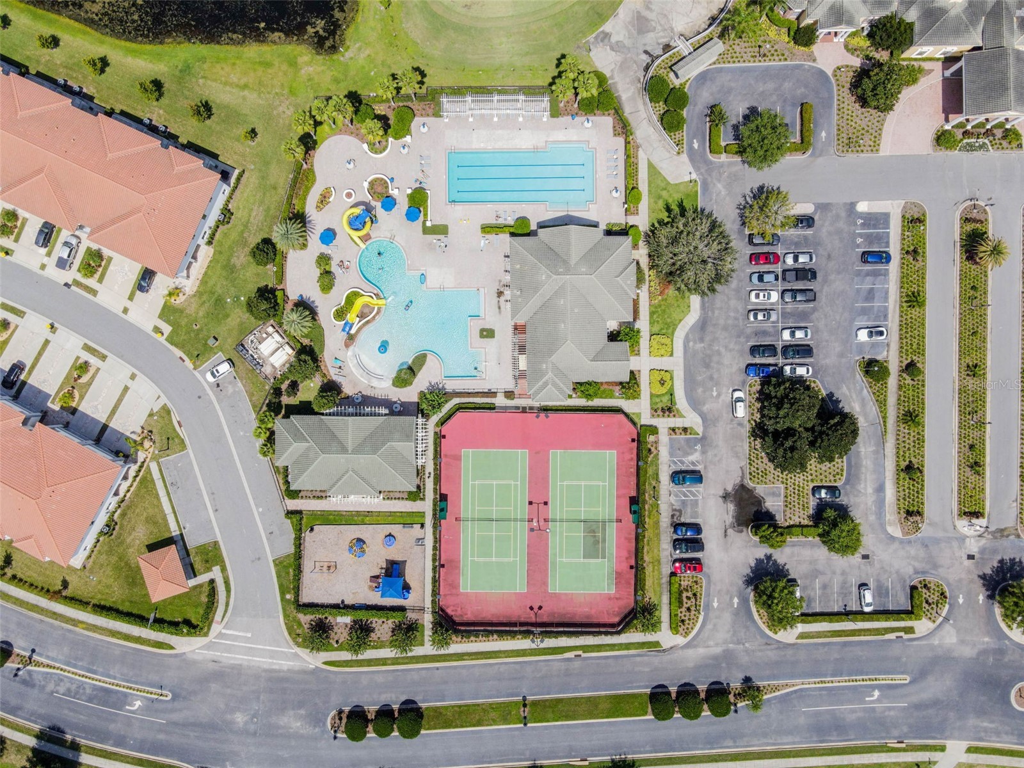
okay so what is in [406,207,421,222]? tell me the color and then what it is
blue umbrella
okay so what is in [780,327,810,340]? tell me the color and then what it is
white vehicle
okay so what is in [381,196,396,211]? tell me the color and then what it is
blue umbrella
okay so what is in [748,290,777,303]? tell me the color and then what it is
white vehicle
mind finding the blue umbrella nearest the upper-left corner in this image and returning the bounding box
[320,230,335,245]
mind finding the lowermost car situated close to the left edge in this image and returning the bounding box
[3,360,25,390]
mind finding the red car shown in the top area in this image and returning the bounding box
[749,252,779,265]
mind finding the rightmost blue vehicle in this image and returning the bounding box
[859,250,889,264]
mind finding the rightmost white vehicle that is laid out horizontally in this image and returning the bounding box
[856,327,885,340]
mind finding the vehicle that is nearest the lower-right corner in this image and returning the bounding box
[857,582,873,611]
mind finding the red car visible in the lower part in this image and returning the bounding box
[672,560,702,574]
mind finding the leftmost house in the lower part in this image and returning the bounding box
[0,391,134,567]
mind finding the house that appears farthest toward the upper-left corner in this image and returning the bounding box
[0,66,245,279]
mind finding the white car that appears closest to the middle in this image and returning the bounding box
[730,389,745,418]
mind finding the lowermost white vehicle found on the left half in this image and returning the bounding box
[206,360,236,381]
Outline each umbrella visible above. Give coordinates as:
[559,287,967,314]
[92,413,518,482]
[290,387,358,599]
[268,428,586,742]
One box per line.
[381,196,396,211]
[406,207,421,222]
[320,230,335,245]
